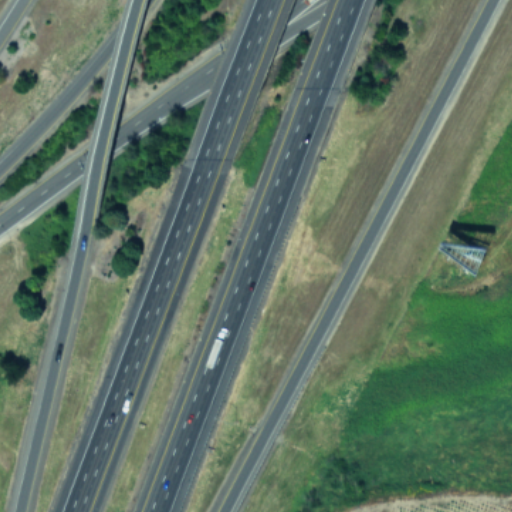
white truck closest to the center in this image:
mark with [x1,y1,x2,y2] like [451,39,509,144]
[208,326,230,368]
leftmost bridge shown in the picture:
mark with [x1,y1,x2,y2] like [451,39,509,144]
[69,0,148,250]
